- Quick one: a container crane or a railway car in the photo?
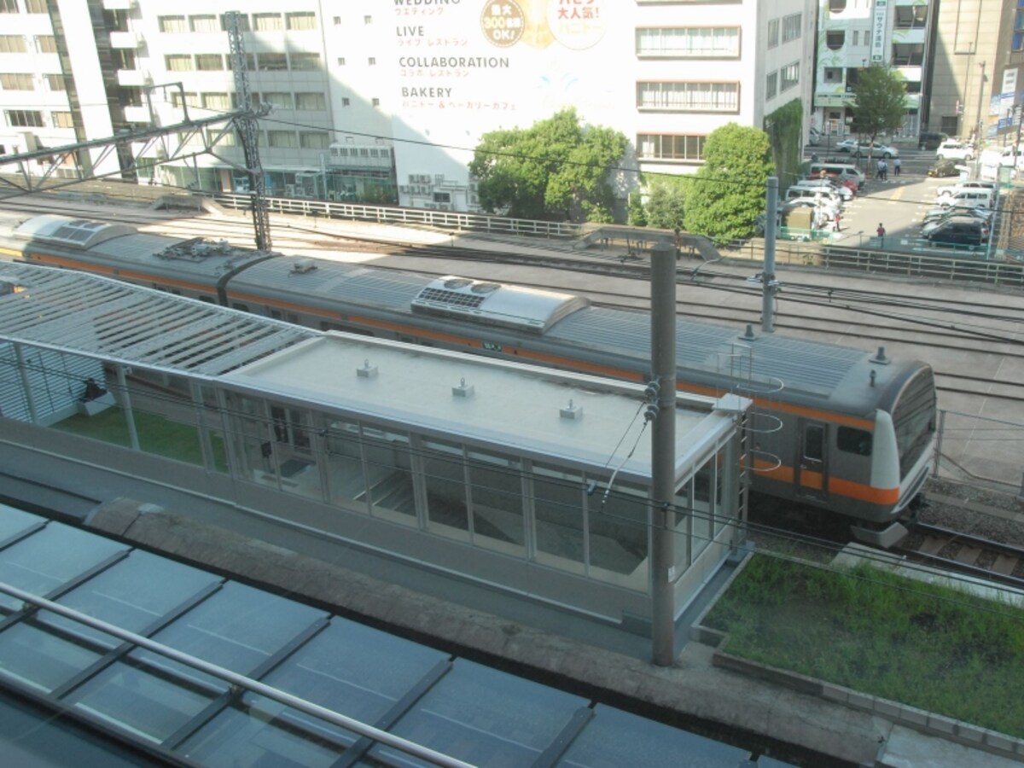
railway car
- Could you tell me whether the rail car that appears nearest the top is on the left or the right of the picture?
left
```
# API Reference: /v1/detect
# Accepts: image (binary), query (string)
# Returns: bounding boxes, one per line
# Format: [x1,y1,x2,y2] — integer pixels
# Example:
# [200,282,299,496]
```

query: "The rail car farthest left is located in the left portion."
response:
[0,219,274,365]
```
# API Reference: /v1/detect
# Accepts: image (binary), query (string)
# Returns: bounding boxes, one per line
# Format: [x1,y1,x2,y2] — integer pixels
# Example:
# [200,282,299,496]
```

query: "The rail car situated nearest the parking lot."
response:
[218,257,948,549]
